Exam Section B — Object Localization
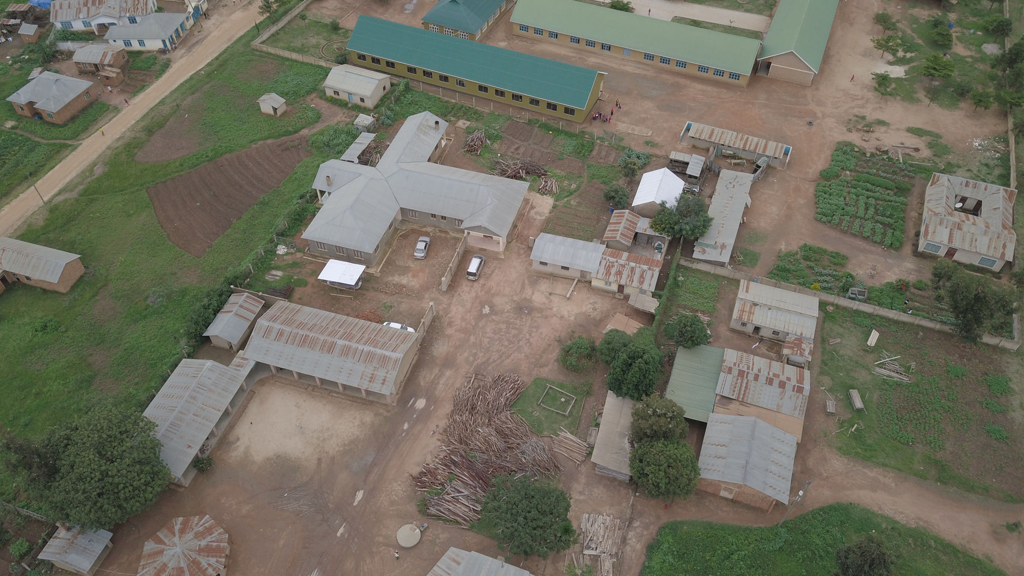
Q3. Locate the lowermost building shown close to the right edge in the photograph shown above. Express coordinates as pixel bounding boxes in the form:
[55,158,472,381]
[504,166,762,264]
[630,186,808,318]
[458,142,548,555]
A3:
[919,170,1012,272]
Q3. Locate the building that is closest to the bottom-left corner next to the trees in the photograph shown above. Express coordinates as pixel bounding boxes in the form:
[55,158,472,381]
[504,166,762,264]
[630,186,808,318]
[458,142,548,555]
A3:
[42,521,123,576]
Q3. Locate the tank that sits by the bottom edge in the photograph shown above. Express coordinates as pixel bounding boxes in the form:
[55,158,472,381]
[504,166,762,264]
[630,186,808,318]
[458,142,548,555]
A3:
[394,522,423,552]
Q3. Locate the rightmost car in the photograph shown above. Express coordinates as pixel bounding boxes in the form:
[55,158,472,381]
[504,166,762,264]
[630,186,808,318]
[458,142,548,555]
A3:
[466,255,486,281]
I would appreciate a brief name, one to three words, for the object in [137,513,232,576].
gazebo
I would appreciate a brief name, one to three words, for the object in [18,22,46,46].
shed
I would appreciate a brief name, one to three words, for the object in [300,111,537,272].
building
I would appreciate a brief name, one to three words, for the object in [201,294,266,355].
house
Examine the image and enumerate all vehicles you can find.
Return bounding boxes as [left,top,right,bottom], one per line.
[327,281,362,293]
[413,236,431,260]
[466,255,486,281]
[384,321,417,333]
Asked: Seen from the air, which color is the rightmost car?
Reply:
white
